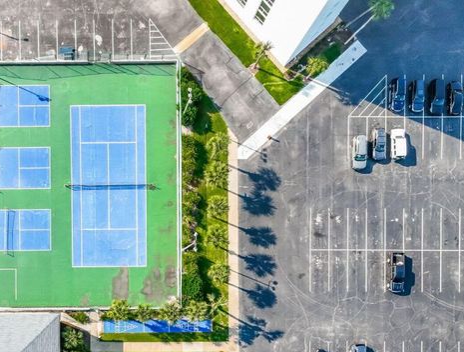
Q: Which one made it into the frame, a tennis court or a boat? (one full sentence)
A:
Of the two, only a tennis court appears.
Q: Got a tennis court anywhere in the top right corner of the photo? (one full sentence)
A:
No, I see no tennis court in the top right corner of the photo.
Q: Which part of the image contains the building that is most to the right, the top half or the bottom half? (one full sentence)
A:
The top half of the photo is where the building that is most to the right is.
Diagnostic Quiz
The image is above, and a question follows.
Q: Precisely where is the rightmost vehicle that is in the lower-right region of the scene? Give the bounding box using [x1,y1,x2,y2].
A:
[388,253,406,294]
